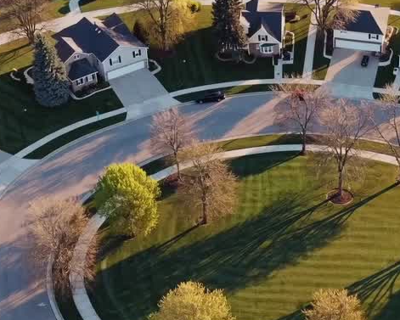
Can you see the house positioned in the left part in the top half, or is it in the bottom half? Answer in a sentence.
Seen from above, the house positioned in the left part lies in the top half of the view.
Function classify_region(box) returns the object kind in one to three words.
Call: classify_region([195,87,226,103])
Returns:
car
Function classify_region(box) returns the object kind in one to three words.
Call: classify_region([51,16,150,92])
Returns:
house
